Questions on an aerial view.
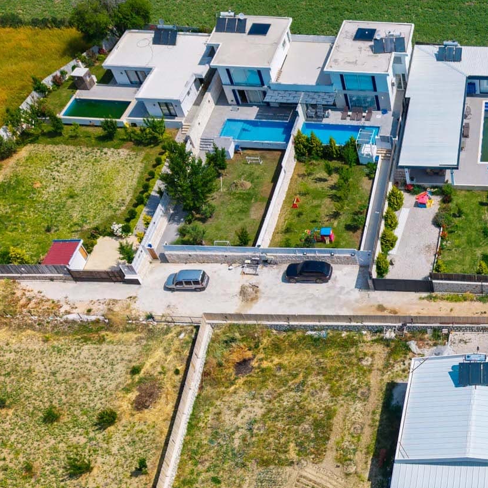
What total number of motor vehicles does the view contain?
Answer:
2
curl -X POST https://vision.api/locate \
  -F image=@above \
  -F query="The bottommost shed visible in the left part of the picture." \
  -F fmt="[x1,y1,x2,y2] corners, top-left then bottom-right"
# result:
[43,237,89,263]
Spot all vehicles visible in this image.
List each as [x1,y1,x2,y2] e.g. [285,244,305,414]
[284,261,334,284]
[163,269,212,293]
